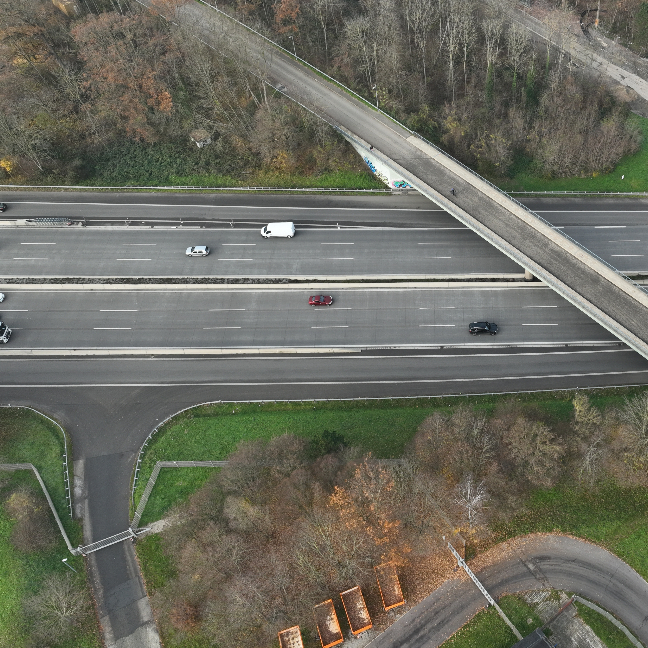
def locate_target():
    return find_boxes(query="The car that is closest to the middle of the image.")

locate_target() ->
[306,295,333,308]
